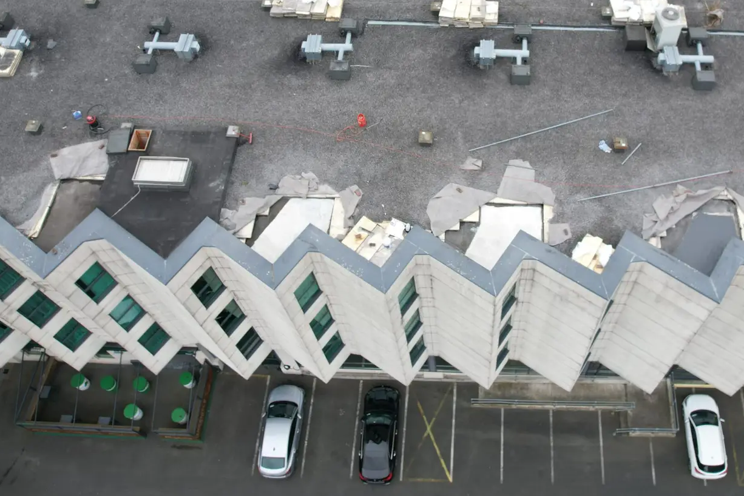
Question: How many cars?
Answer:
three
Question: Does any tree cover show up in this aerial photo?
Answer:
No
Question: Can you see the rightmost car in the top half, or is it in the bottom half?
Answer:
bottom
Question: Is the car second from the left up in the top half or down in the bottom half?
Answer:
bottom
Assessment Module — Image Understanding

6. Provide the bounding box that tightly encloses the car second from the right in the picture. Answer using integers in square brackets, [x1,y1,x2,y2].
[357,386,402,490]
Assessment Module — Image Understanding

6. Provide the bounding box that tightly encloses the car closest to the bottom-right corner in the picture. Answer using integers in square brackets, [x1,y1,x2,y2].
[679,394,727,487]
